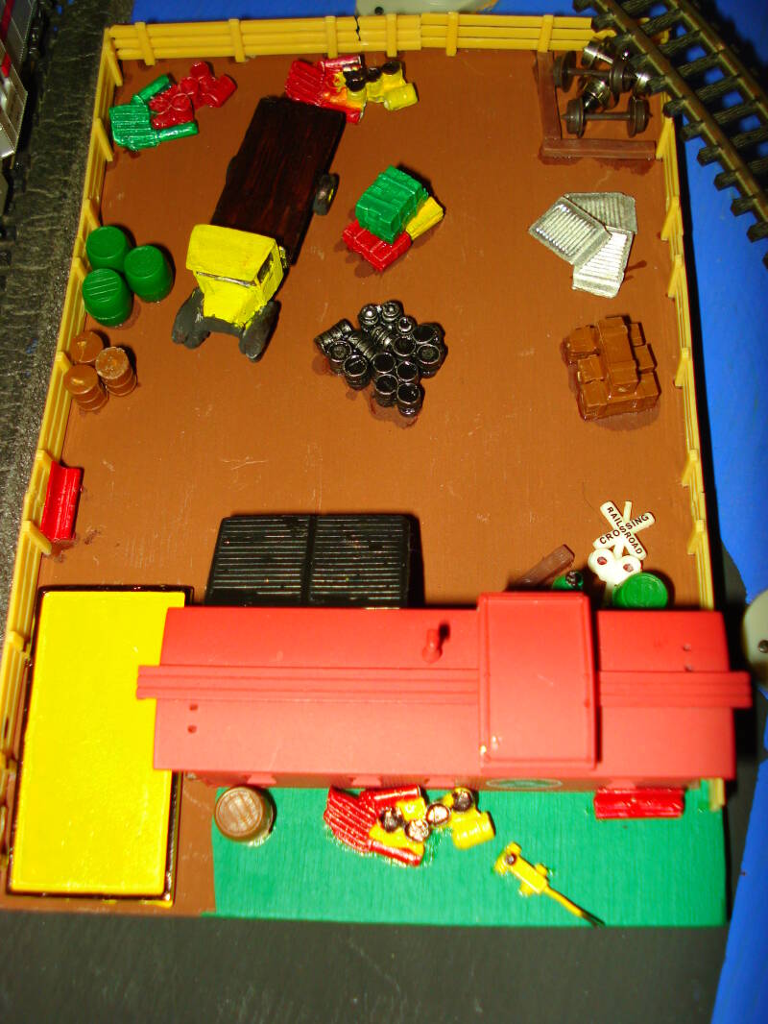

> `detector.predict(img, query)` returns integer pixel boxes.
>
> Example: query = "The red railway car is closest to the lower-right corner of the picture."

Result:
[136,594,754,793]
